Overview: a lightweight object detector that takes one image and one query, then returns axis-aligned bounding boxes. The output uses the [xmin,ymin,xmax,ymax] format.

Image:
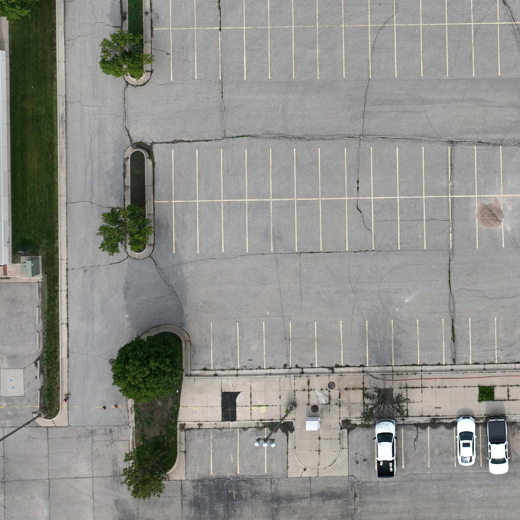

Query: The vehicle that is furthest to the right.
[486,415,511,473]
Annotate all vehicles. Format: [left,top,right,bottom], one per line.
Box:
[454,415,478,465]
[486,415,511,473]
[372,417,399,478]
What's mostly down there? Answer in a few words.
paved ground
